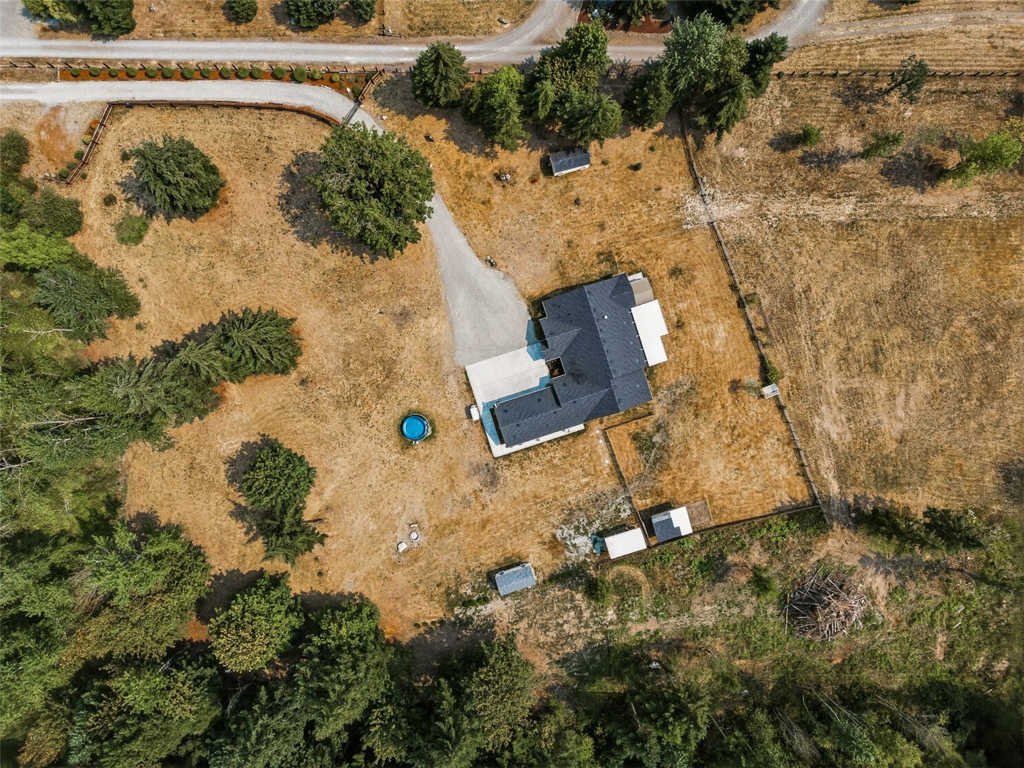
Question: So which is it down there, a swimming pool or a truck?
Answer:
swimming pool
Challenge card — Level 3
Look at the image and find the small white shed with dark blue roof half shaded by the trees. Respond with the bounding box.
[551,146,593,178]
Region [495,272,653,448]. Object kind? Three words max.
house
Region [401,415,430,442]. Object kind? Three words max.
swimming pool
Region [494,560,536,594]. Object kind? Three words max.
shed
